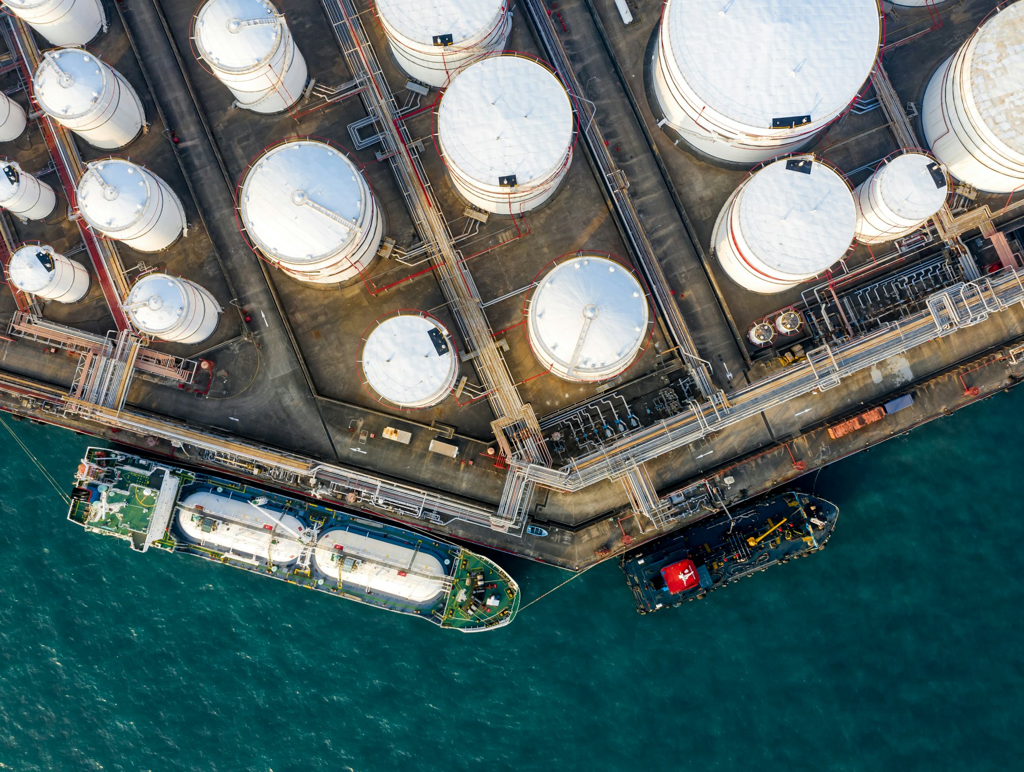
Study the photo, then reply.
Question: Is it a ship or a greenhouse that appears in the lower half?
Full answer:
Looking in the lower half, you will find a ship.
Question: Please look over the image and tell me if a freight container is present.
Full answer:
Yes, I can see a freight container in this picture.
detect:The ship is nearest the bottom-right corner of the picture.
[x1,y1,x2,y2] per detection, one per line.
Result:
[620,492,838,612]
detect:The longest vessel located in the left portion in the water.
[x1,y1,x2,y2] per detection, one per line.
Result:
[66,446,521,633]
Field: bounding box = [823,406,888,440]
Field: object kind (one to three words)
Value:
shipping container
